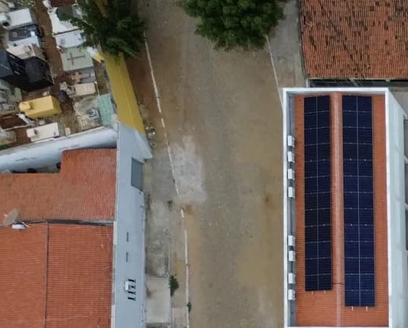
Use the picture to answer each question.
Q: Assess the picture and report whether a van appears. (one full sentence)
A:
No, this view has no van in it.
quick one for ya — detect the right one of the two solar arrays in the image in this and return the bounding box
[343,93,374,311]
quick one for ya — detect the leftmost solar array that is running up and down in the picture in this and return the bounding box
[305,93,333,290]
